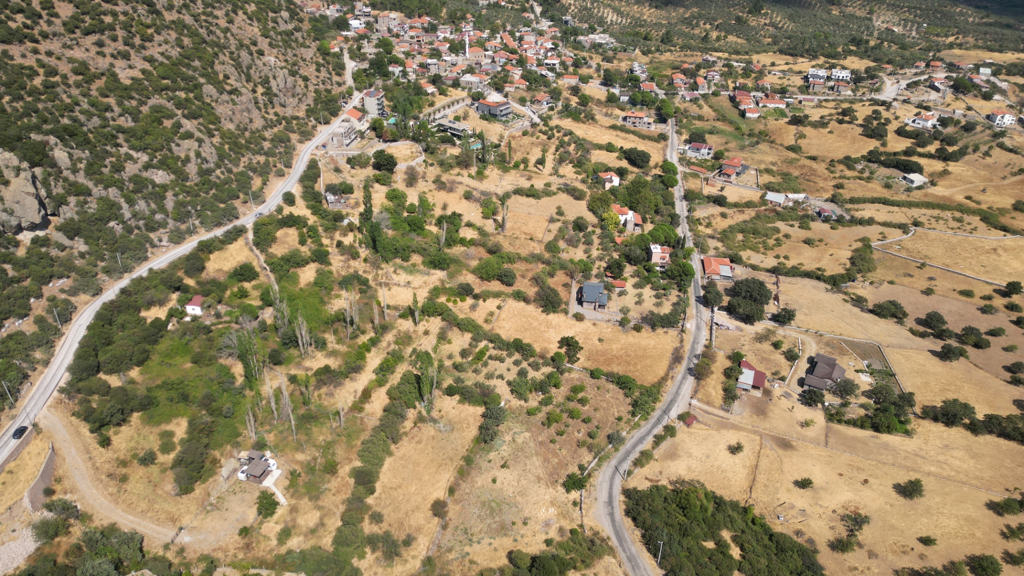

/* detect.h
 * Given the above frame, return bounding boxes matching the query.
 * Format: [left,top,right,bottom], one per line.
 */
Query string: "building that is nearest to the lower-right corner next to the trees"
[802,352,842,393]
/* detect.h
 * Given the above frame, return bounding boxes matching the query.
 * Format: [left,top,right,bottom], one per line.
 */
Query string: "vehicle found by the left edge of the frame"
[8,424,30,438]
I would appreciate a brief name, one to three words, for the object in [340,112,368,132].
house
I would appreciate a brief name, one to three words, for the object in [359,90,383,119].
building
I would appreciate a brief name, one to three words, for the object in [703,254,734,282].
house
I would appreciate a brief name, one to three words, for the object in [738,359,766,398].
barn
